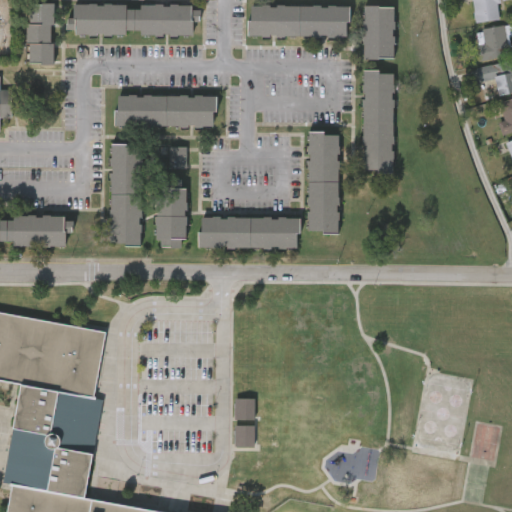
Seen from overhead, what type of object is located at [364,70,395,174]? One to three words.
building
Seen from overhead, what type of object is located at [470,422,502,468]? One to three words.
basketball court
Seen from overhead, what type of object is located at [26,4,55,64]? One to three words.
building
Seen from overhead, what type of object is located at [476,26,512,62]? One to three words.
house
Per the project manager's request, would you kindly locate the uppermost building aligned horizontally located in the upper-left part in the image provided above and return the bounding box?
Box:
[66,4,202,38]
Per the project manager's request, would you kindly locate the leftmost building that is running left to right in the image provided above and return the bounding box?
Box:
[0,216,74,248]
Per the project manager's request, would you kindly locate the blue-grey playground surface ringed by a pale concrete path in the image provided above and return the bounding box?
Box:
[321,438,380,487]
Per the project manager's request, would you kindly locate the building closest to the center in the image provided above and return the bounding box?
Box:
[198,218,301,250]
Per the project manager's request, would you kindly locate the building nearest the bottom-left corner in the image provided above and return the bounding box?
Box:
[0,313,158,512]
